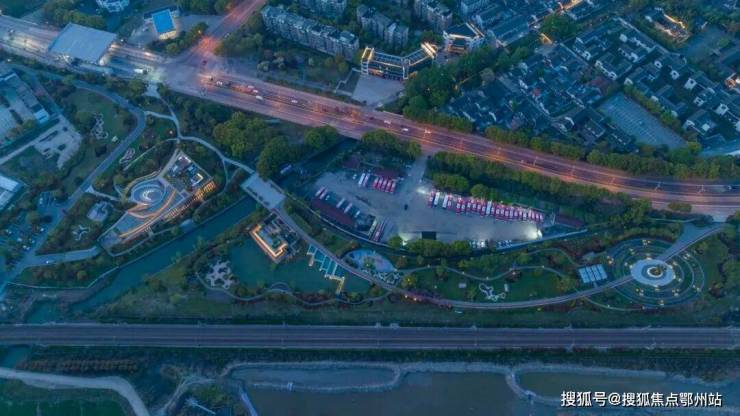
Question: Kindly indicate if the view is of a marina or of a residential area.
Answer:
residential area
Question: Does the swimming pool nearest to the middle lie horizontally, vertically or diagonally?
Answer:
diagonally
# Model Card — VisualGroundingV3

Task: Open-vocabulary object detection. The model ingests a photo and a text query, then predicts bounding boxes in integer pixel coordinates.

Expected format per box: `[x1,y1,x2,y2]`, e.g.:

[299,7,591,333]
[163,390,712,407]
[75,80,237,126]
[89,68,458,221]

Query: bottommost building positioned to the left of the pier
[249,210,298,262]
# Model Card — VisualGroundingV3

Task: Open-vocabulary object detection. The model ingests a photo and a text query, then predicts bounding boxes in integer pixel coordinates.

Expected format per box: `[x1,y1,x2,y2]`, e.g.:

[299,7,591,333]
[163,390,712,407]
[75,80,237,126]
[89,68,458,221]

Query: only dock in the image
[306,245,345,298]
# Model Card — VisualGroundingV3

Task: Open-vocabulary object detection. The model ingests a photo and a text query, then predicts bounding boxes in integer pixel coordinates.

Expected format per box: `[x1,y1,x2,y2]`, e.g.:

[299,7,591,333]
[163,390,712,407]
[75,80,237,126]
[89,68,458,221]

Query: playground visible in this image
[342,247,396,274]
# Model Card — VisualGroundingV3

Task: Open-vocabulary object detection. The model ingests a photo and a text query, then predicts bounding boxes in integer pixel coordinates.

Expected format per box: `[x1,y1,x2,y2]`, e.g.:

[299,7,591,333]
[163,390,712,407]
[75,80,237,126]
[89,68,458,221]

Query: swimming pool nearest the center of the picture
[309,248,343,277]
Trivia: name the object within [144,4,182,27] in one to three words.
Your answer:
building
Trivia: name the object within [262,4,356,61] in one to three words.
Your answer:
building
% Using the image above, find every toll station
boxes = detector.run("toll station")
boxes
[48,22,118,68]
